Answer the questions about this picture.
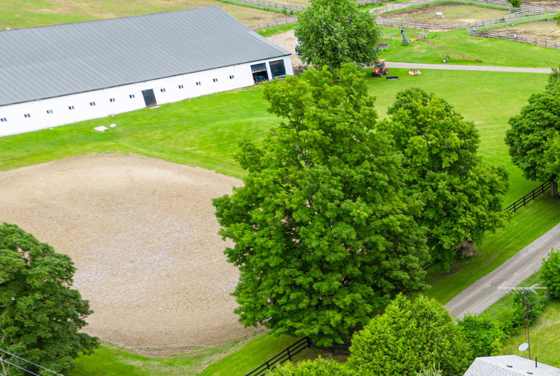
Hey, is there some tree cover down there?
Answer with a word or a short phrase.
Yes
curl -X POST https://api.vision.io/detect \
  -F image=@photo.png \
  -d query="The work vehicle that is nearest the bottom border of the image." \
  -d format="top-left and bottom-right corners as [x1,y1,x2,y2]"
[364,60,387,78]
